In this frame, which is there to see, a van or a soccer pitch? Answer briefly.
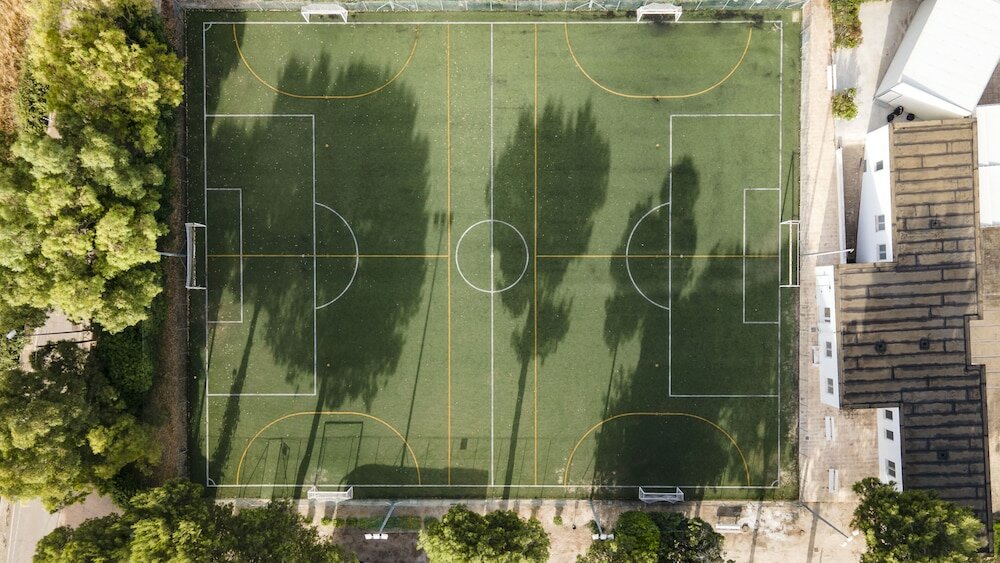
soccer pitch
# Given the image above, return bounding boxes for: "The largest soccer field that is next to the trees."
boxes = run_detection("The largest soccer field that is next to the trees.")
[186,10,805,501]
